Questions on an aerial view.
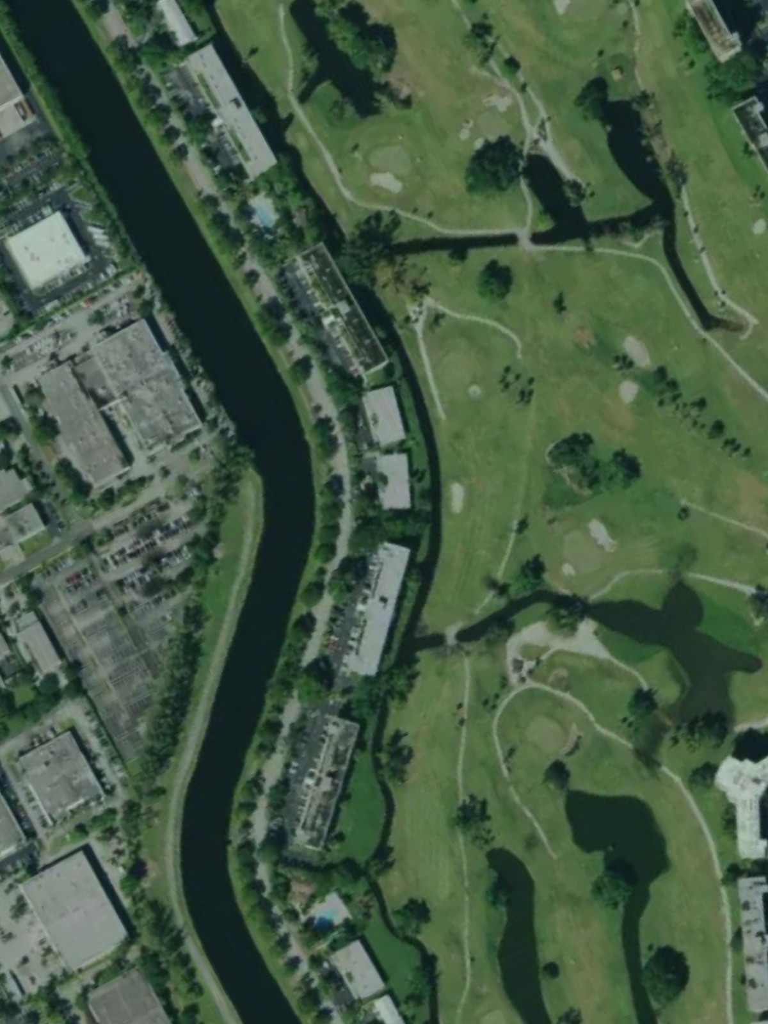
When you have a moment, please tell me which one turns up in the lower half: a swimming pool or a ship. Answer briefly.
swimming pool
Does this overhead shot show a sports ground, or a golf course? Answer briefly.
golf course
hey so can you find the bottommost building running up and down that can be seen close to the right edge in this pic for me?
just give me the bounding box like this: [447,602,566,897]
[736,875,768,1013]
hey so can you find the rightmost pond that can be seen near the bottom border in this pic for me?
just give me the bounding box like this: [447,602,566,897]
[565,790,671,1024]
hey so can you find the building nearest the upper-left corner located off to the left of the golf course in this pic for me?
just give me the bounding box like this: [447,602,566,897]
[0,56,35,141]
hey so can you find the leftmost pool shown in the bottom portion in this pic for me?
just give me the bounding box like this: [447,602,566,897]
[307,892,352,931]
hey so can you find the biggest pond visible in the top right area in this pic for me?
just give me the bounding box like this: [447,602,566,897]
[525,98,743,332]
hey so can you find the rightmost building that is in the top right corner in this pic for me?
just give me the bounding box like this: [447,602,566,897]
[729,98,768,184]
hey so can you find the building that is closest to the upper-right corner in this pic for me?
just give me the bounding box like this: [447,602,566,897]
[681,0,741,67]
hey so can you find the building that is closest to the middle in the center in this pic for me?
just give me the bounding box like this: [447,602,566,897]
[376,453,411,510]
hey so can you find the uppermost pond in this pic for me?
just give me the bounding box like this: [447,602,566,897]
[293,0,380,117]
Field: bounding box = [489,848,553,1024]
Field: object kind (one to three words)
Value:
pond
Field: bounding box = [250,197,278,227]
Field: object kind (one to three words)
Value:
swimming pool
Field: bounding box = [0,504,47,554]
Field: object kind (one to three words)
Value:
building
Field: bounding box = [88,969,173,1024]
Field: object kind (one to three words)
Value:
building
